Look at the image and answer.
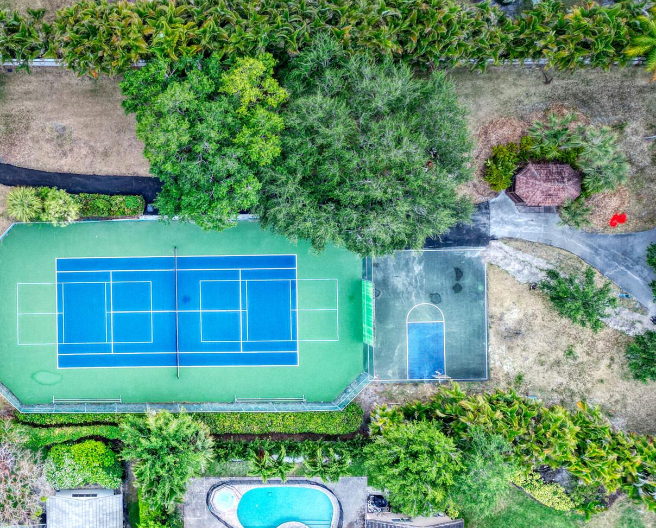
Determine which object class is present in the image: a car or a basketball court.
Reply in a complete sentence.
The image shows a basketball court.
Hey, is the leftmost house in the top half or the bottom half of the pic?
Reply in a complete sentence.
Seen from above, the leftmost house lies in the bottom half of the view.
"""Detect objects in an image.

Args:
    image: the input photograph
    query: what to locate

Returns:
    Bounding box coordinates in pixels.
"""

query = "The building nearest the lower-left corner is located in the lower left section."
[47,490,124,528]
